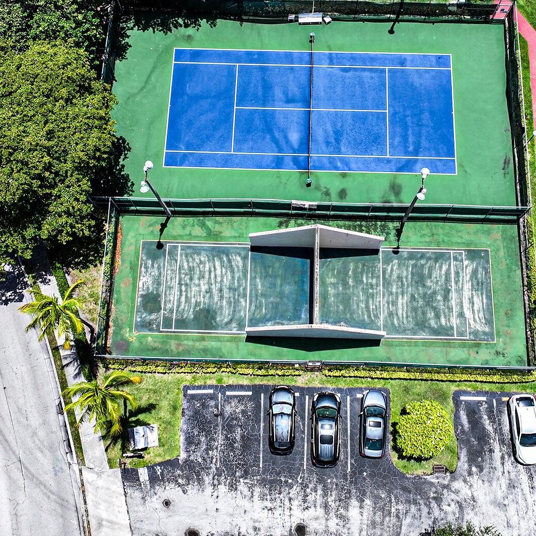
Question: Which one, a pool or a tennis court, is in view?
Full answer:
It is a tennis court that can be seen here.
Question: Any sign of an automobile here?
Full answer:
Yes, the frame does contain an automobile.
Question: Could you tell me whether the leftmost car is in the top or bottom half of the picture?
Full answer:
The leftmost car is in the bottom half of the image.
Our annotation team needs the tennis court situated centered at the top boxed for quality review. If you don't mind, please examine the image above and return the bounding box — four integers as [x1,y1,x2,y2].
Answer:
[101,12,517,217]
